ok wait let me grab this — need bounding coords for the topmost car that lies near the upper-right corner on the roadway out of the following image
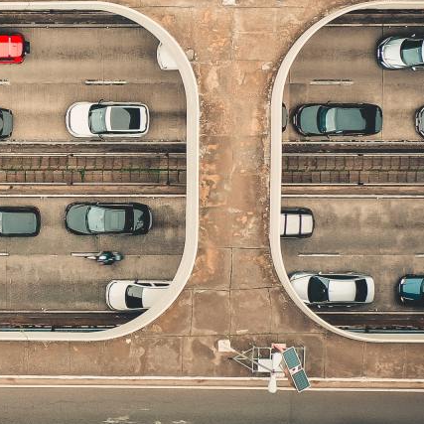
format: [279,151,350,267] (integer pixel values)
[377,31,424,73]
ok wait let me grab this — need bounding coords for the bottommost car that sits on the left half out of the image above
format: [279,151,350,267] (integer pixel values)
[106,276,176,316]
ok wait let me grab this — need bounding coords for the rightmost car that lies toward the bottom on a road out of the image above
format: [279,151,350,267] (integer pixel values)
[398,273,424,308]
